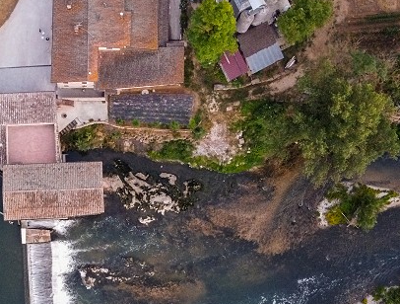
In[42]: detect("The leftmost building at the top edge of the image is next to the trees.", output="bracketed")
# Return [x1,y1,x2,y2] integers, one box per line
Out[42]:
[51,0,185,93]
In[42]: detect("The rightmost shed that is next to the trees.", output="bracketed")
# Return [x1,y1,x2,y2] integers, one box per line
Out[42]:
[236,23,284,77]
